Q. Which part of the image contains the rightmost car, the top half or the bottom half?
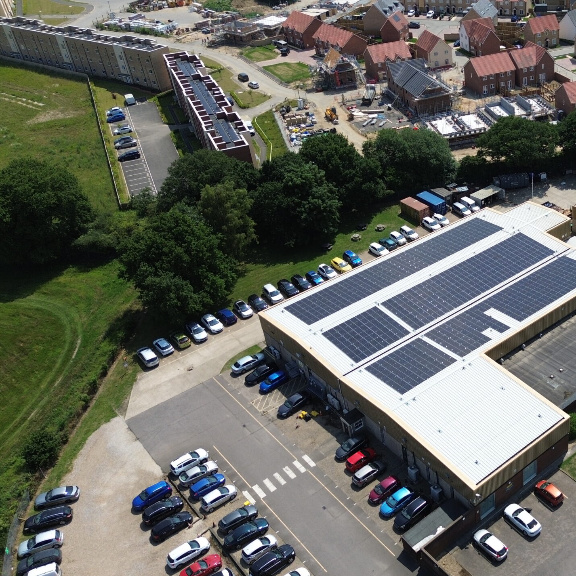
bottom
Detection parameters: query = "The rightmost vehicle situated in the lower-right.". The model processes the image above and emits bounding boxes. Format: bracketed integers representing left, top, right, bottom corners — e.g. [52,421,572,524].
[533,480,568,509]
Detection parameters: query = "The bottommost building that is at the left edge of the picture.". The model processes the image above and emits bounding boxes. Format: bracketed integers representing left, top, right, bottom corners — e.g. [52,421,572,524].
[0,16,171,87]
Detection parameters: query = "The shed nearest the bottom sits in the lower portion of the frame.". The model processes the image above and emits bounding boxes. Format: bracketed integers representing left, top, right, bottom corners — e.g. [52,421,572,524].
[400,497,475,566]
